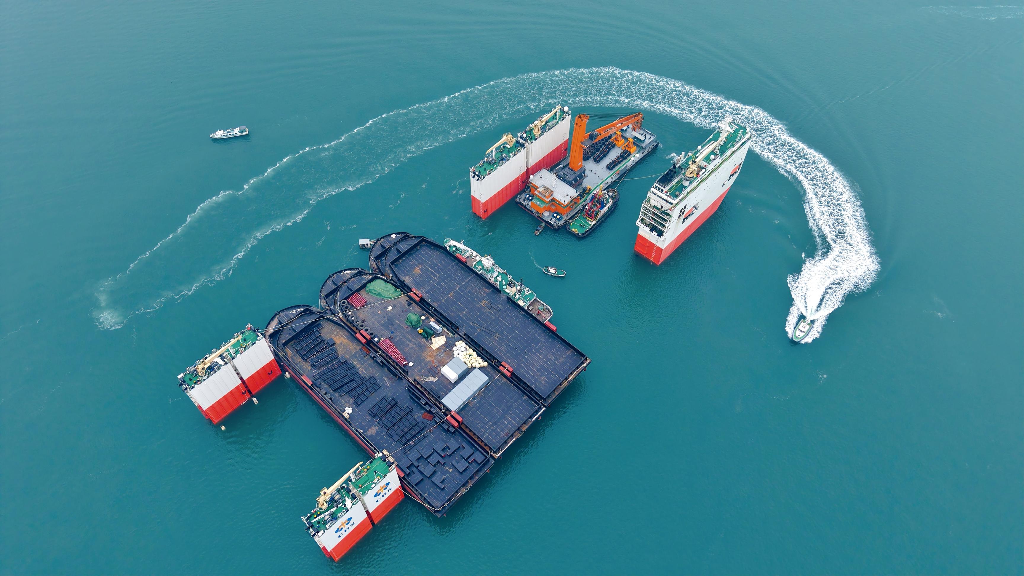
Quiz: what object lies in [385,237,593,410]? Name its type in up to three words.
ship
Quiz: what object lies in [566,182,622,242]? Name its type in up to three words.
boat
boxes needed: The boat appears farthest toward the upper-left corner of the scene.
[208,125,248,138]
